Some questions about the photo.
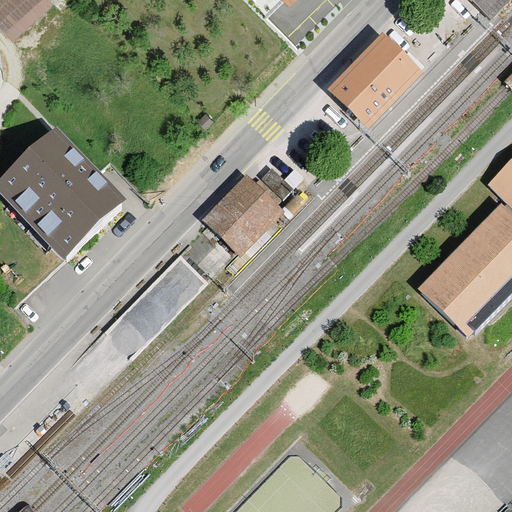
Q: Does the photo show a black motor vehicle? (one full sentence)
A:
Yes, the picture does show a black motor vehicle.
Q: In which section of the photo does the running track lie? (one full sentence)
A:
The running track is located in the bottom right region of the scene.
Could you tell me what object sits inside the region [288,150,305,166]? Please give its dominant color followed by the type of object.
black car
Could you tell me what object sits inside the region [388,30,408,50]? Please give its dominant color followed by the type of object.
white vehicle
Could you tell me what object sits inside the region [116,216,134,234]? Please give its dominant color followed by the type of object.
gray car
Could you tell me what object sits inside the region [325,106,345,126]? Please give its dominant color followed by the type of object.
white vehicle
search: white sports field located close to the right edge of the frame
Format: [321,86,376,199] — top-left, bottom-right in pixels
[400,458,508,512]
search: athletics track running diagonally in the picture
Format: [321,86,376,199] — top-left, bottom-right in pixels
[368,365,512,512]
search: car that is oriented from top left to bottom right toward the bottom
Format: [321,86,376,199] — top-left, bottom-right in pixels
[21,304,38,322]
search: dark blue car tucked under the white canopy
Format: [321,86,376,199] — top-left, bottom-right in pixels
[274,158,290,174]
